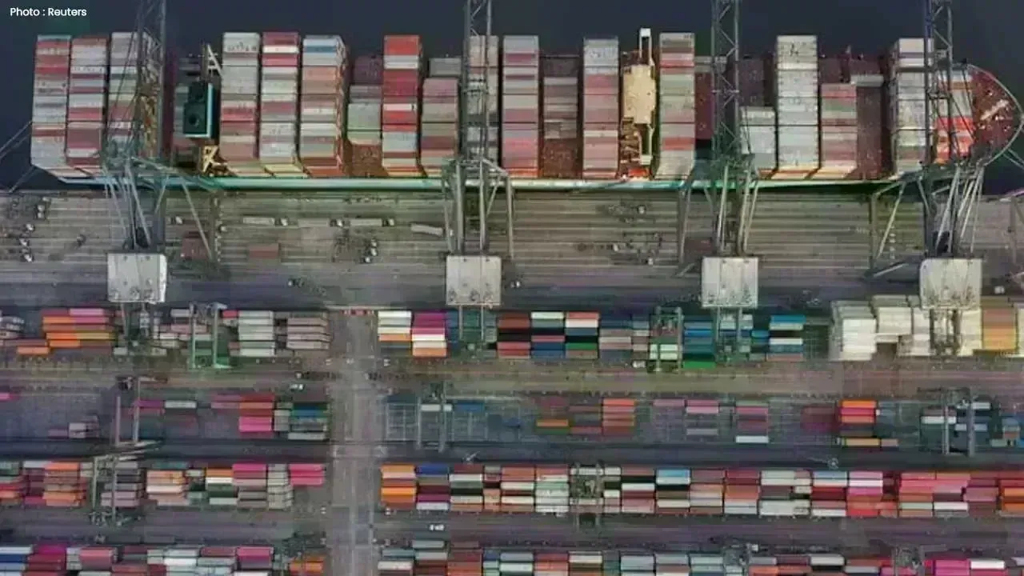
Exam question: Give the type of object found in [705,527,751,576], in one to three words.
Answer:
container crane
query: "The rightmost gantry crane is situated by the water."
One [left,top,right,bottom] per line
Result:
[977,194,1024,288]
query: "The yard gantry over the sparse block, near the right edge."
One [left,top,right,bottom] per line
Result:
[910,382,973,459]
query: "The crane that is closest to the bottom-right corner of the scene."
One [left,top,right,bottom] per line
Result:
[863,528,922,576]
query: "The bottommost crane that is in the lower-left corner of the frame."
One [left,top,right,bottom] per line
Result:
[90,444,152,525]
